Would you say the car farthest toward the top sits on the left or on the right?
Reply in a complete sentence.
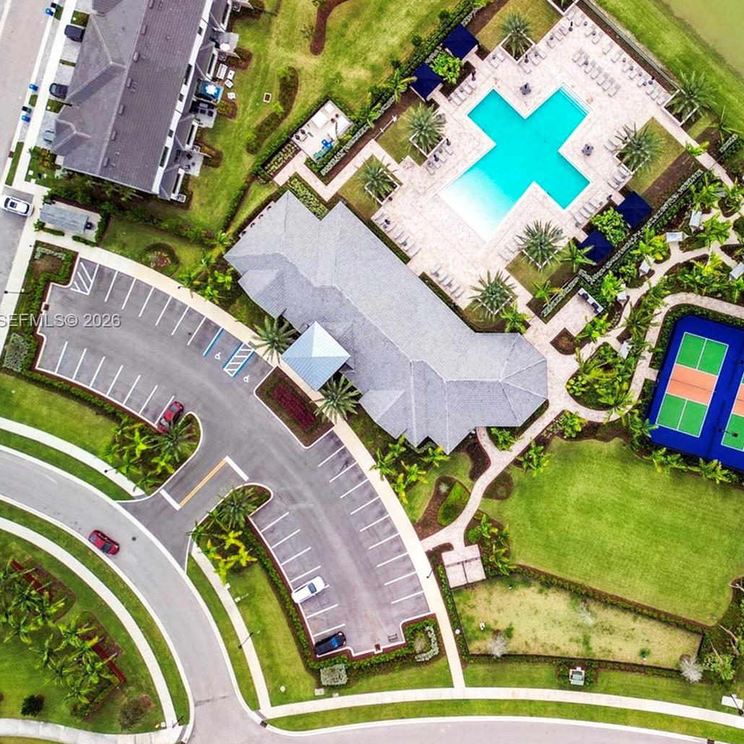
The car farthest toward the top sits on the left side.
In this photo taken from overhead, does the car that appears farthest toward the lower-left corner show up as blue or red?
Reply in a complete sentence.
The car that appears farthest toward the lower-left corner is red.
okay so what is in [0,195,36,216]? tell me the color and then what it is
white car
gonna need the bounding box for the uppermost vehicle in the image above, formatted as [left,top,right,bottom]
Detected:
[58,22,86,42]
